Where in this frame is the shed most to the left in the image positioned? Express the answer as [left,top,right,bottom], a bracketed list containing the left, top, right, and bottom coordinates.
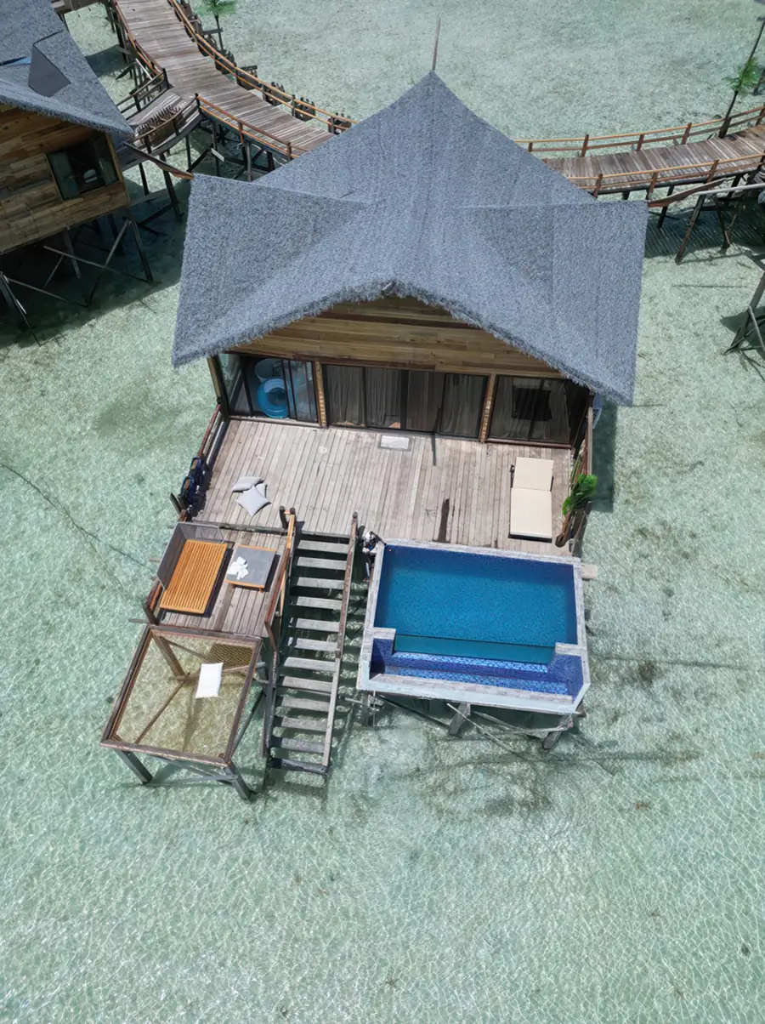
[0,4,148,321]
